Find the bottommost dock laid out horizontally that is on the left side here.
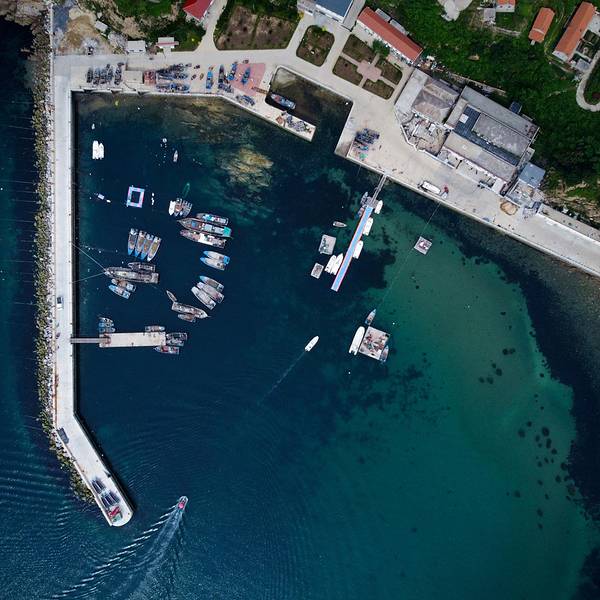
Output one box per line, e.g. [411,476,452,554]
[71,332,166,347]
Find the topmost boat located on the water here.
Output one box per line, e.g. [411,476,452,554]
[271,94,297,109]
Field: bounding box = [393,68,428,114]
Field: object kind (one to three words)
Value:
shed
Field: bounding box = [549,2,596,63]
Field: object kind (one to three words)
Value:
house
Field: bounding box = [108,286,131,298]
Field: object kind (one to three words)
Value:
boat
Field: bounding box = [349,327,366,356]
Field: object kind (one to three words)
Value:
boat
